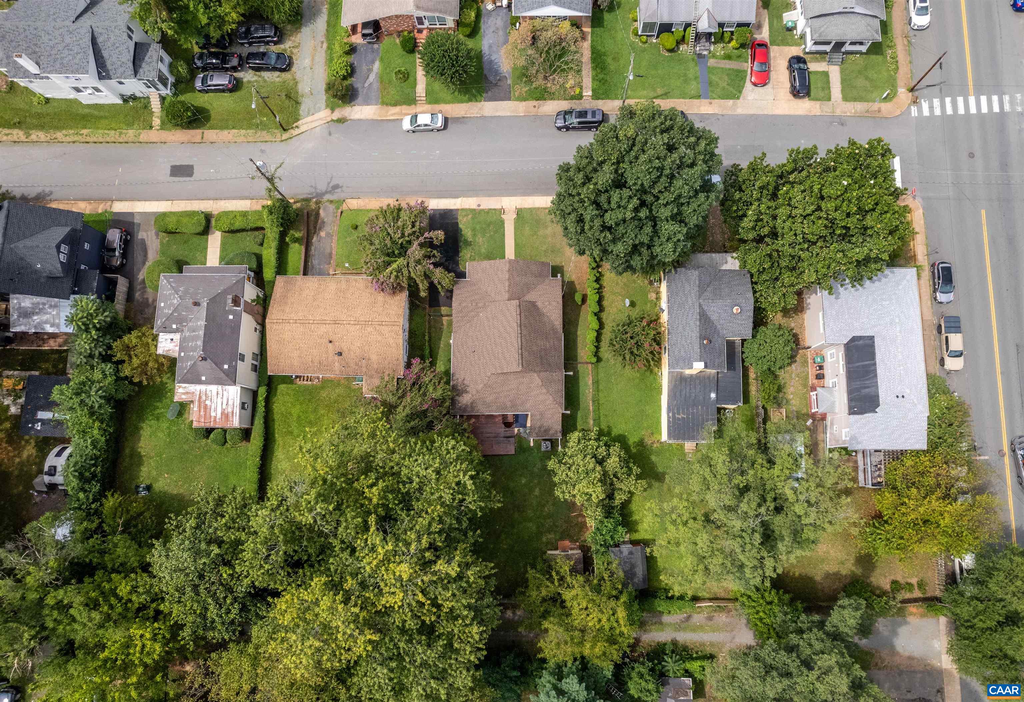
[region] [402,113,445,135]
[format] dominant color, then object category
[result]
white car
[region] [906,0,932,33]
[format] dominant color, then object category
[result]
white car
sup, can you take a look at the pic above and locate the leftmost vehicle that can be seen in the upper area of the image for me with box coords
[101,228,129,271]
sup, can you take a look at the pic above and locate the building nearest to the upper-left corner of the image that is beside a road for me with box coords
[0,0,175,113]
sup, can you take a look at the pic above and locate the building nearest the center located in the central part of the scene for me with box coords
[449,257,573,454]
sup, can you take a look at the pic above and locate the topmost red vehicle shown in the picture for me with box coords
[748,44,770,89]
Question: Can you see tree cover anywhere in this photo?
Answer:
Yes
